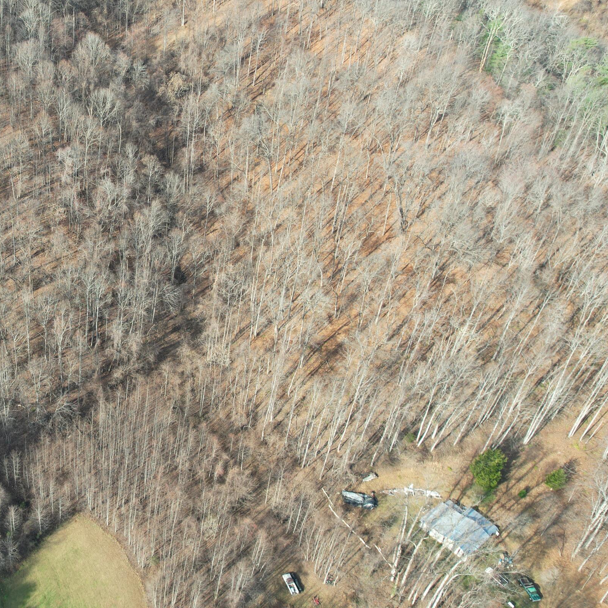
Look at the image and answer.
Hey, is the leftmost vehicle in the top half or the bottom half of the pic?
bottom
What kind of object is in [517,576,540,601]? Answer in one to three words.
truck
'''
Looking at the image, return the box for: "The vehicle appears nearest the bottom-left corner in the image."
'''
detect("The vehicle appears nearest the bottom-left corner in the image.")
[280,573,300,598]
